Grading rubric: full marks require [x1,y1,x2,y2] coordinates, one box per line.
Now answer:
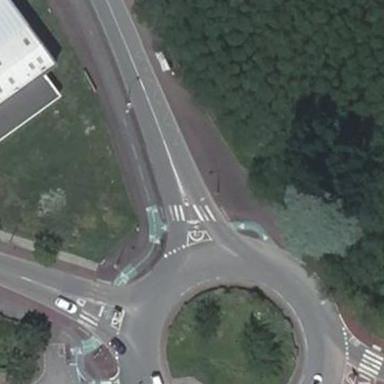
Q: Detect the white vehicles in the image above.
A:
[55,296,78,313]
[152,373,164,384]
[312,374,323,384]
